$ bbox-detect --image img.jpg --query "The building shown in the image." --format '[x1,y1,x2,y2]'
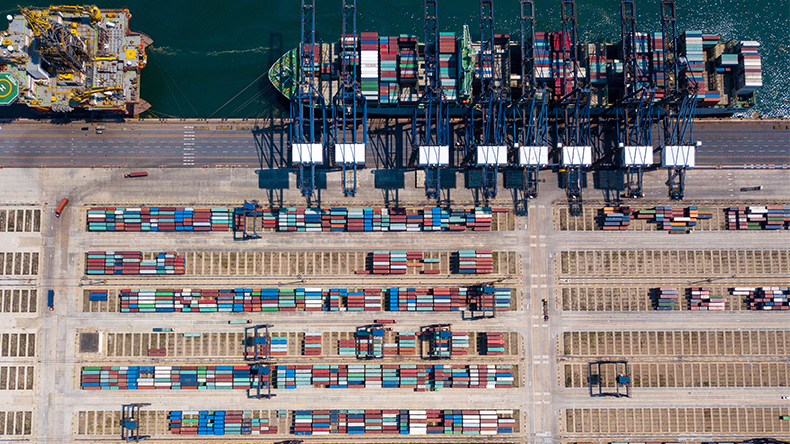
[79,332,105,353]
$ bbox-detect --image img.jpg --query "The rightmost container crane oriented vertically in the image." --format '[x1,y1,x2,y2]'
[628,2,703,199]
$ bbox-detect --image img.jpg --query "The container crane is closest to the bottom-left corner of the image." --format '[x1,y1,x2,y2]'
[126,405,152,444]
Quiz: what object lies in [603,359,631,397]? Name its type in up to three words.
container crane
